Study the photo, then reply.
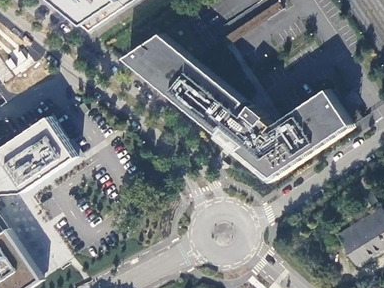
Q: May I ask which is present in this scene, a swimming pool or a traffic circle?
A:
traffic circle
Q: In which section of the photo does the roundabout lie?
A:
bottom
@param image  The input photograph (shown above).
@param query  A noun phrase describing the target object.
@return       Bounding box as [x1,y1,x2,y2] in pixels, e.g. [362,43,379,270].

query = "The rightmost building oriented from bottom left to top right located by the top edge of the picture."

[227,2,287,43]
